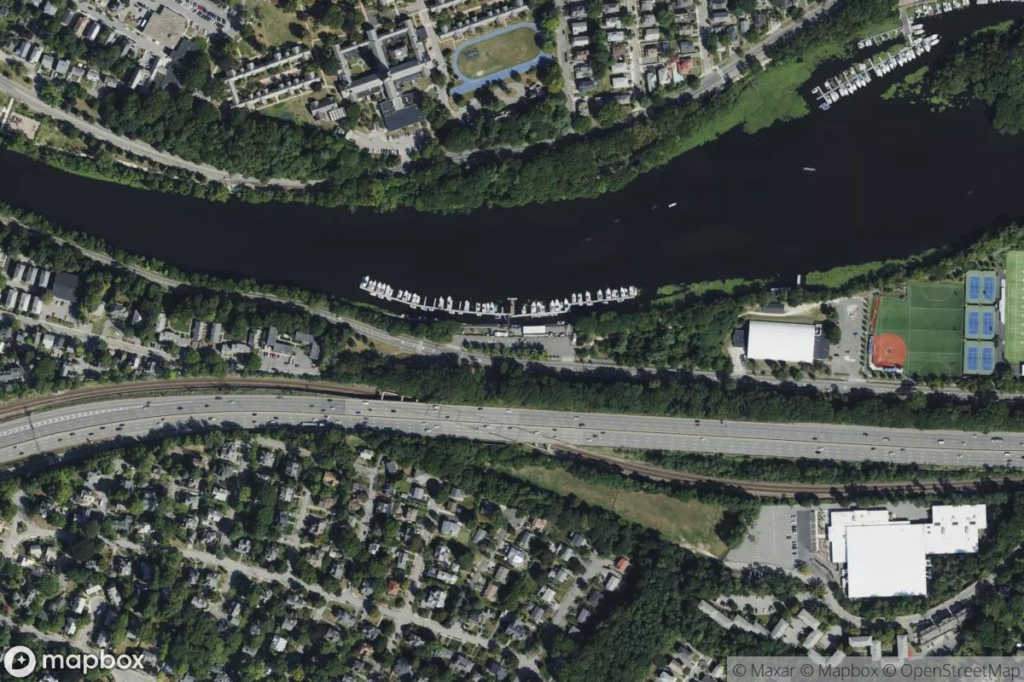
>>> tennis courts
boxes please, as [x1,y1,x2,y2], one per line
[981,270,997,303]
[981,306,997,339]
[965,270,981,303]
[965,306,981,339]
[964,341,979,375]
[979,341,995,375]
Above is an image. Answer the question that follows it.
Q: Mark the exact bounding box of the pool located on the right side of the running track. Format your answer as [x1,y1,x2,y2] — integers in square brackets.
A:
[672,62,685,84]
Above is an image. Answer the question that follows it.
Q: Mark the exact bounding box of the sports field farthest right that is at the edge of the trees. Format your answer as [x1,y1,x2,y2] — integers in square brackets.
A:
[1004,250,1024,363]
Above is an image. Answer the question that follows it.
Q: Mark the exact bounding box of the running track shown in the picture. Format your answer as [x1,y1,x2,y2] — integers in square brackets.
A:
[451,20,549,93]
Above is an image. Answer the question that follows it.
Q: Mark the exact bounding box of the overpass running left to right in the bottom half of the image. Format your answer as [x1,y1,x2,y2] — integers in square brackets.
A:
[367,400,572,445]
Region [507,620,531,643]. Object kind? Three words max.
house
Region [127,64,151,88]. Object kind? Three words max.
building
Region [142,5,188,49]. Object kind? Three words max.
building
